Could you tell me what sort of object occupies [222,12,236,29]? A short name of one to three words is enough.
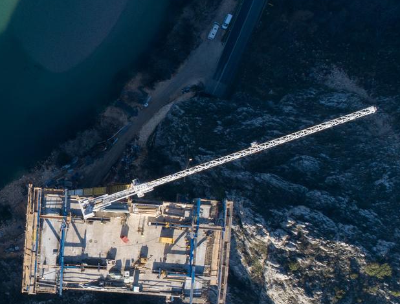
vehicle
